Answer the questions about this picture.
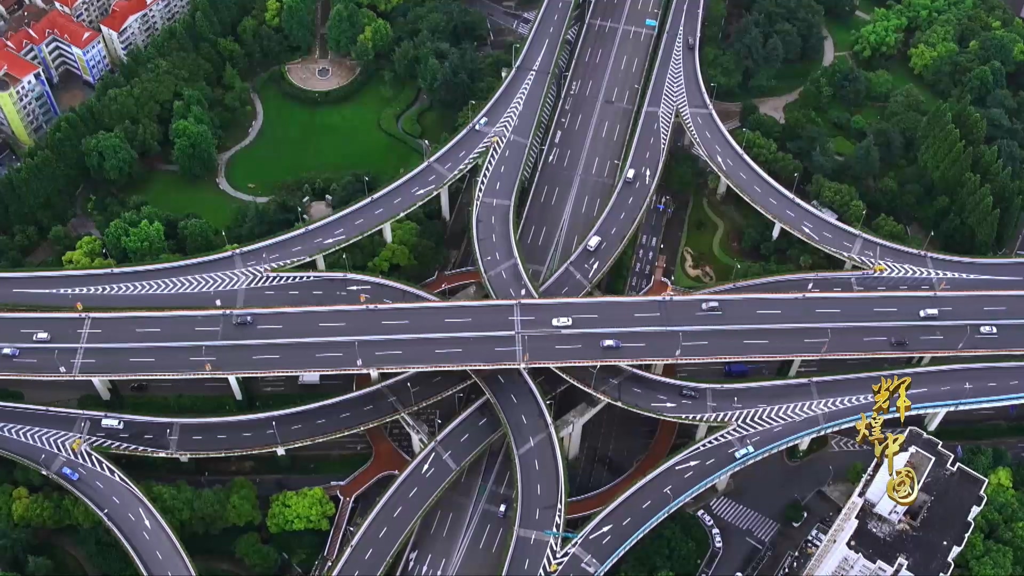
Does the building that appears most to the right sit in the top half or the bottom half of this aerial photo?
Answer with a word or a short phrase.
bottom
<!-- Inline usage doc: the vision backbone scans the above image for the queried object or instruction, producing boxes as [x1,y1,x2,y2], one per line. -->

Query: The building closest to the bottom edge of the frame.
[809,425,990,576]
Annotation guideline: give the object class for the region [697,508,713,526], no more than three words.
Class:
car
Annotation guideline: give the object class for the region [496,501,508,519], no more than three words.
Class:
vehicle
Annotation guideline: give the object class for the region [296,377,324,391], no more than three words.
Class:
vehicle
